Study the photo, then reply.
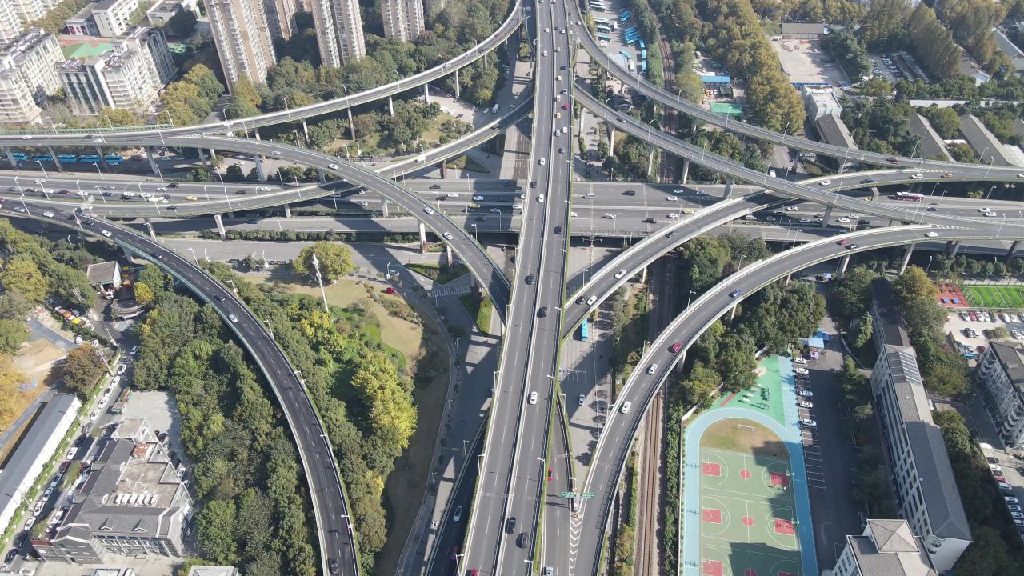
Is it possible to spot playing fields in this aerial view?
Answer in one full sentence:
Yes, there is a playing field in the image.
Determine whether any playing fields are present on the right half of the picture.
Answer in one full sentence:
Yes, a playing field shows up on the right half of the picture.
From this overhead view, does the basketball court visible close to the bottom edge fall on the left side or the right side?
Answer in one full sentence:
It is on the right.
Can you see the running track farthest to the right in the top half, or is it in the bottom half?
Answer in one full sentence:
The bottom half of the photo is where the running track farthest to the right is.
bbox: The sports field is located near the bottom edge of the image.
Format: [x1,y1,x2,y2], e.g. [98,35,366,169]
[698,416,802,569]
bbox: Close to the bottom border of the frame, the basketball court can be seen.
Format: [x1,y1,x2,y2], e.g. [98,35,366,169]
[698,447,804,576]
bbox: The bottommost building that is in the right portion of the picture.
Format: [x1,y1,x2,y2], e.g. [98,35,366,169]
[828,519,941,576]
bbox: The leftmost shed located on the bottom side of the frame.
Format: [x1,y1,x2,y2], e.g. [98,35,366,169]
[0,387,85,533]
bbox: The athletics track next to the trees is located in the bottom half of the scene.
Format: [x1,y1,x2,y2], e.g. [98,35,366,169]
[686,408,818,576]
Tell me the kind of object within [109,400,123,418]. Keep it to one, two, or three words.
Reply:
vehicle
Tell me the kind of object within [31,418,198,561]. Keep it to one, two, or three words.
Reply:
building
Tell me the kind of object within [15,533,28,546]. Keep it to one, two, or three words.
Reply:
vehicle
